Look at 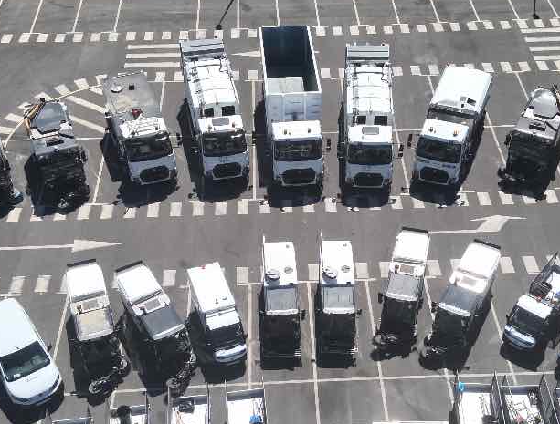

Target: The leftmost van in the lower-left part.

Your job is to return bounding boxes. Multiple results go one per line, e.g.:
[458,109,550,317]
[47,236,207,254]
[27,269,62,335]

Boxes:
[0,301,61,407]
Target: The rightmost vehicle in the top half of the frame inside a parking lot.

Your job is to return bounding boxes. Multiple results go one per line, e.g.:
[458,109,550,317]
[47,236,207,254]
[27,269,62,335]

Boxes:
[495,85,560,190]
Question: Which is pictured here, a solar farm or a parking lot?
parking lot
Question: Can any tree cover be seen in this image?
No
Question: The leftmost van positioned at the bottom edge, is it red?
No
